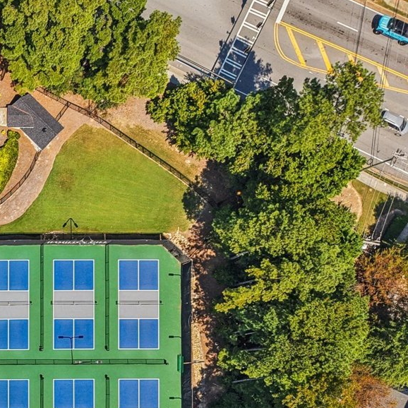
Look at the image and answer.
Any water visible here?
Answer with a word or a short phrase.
No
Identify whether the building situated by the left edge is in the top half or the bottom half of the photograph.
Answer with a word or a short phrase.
top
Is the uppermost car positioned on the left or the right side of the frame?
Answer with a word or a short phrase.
right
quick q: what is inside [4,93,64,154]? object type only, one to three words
building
